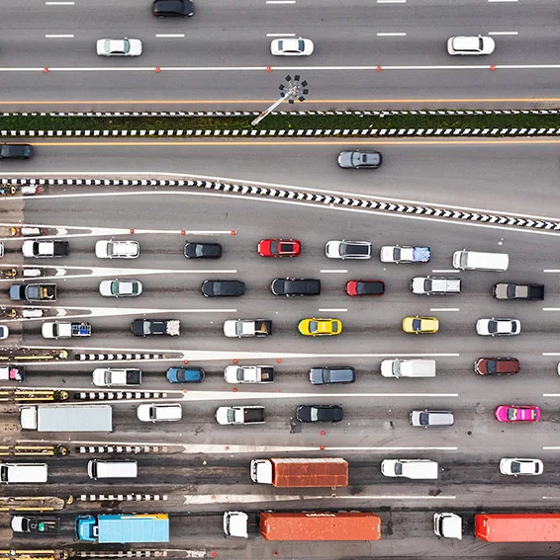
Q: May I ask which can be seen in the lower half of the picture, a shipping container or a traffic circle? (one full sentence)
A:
The one visible in the lower half of the picture is a shipping container.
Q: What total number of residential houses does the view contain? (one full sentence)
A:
No residential houses are visible.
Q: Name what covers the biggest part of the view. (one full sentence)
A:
The scene is dominated by paved ground.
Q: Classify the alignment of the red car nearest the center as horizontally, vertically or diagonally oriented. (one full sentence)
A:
In this picture, the red car nearest the center lies horizontally.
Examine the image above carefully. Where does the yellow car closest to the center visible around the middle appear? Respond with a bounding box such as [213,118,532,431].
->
[296,318,343,336]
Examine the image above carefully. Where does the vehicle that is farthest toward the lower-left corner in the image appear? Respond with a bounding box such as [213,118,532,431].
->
[10,514,61,534]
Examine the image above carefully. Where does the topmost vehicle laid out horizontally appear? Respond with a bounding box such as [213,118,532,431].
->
[152,0,195,19]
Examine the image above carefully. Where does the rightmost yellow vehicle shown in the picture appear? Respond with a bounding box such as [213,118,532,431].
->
[400,315,439,334]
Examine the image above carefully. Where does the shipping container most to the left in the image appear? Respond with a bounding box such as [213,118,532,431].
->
[260,514,381,540]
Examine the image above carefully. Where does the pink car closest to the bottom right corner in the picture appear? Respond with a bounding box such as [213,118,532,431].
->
[492,403,540,423]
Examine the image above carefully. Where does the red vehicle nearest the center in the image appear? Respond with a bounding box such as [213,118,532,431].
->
[257,238,300,257]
